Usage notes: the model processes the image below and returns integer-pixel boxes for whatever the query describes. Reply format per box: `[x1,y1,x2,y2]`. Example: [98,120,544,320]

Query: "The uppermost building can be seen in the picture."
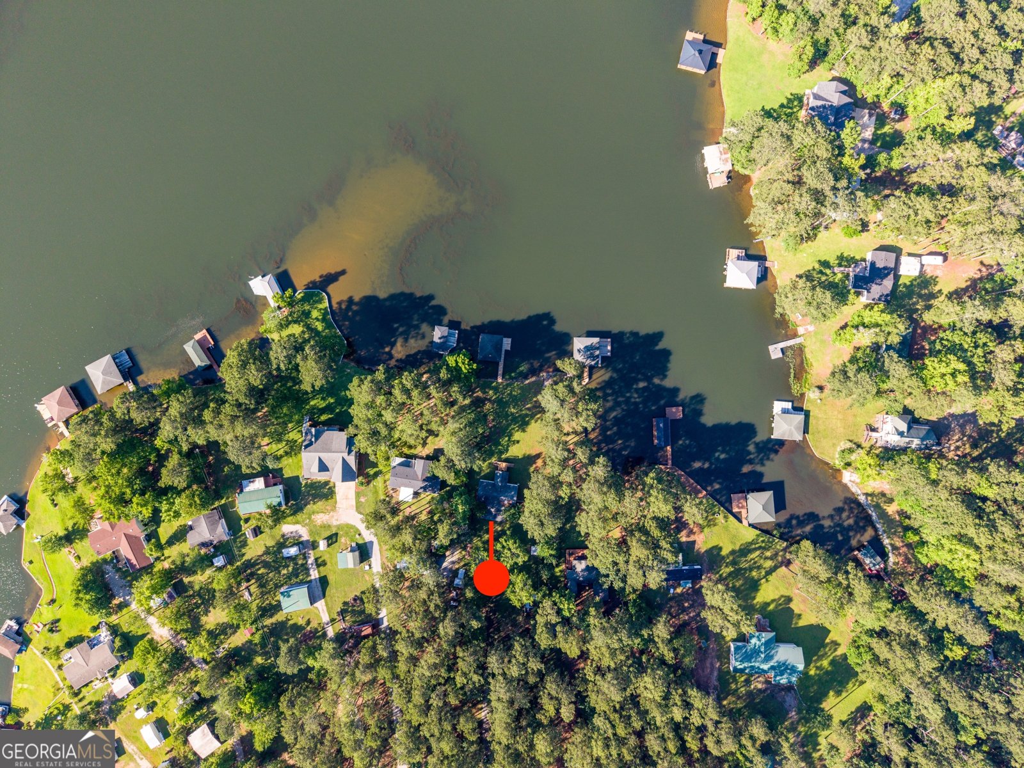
[676,29,724,78]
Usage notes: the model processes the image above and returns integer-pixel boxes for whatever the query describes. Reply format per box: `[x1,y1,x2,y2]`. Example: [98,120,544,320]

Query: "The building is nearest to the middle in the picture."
[478,334,511,361]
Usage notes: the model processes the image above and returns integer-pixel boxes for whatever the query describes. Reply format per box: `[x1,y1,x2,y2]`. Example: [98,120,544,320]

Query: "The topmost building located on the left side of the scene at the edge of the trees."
[248,274,284,309]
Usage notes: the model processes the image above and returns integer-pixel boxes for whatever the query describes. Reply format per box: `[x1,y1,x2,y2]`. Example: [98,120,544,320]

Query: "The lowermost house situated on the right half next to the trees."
[728,612,806,685]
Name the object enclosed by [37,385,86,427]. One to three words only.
building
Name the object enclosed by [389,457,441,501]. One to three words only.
house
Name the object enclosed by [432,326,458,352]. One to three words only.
building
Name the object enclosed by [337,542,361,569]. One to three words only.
barn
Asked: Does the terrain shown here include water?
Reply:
Yes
